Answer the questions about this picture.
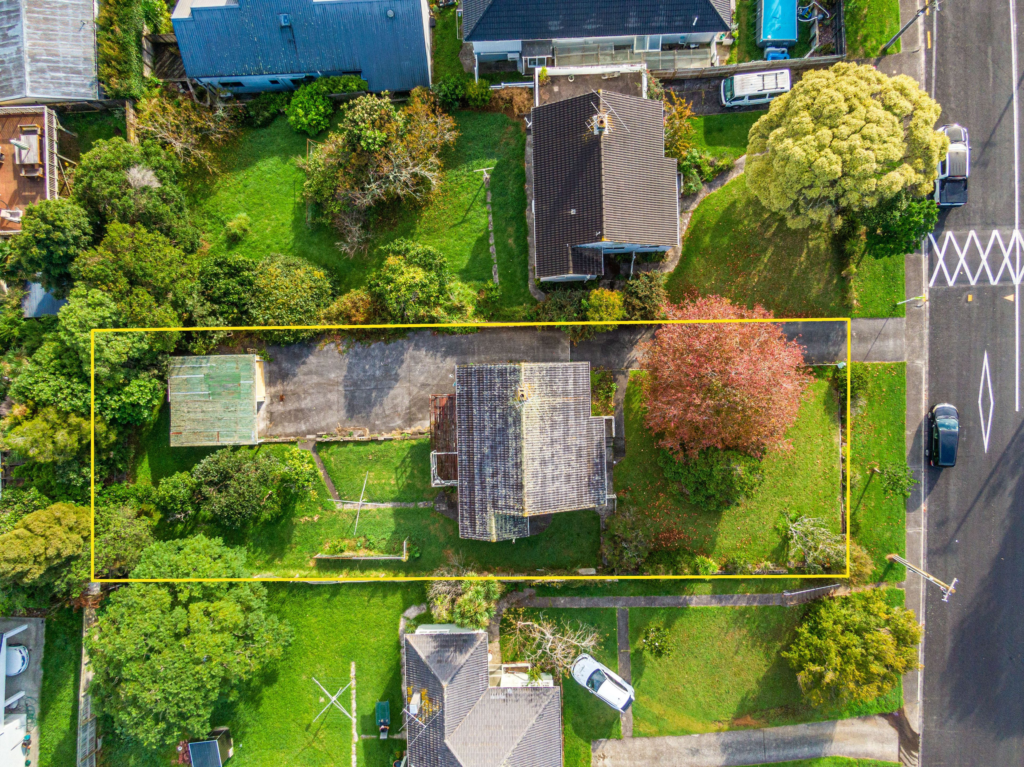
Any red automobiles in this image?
No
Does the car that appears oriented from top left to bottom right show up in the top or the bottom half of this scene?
bottom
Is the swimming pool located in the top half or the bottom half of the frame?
top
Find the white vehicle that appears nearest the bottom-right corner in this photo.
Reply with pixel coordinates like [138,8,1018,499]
[574,655,643,721]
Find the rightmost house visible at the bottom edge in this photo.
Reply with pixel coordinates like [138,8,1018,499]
[403,626,563,767]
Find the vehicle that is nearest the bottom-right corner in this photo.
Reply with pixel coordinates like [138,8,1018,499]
[923,402,963,469]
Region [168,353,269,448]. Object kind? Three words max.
building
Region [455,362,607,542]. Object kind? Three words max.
house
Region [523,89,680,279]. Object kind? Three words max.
house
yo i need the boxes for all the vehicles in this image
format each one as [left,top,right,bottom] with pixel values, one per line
[932,125,974,207]
[574,655,643,721]
[722,68,800,110]
[923,402,963,469]
[7,647,22,678]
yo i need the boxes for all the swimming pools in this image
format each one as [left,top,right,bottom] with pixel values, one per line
[747,0,798,56]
